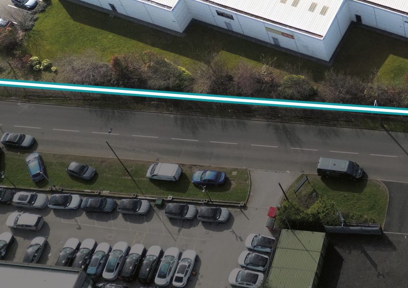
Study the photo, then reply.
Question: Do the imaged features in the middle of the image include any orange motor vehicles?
No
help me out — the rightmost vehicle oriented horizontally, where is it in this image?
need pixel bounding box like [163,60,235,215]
[318,156,362,179]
